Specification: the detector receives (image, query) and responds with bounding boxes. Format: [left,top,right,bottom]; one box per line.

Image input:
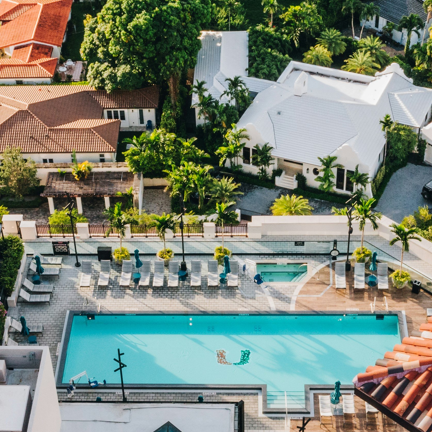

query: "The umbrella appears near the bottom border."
[330,381,343,416]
